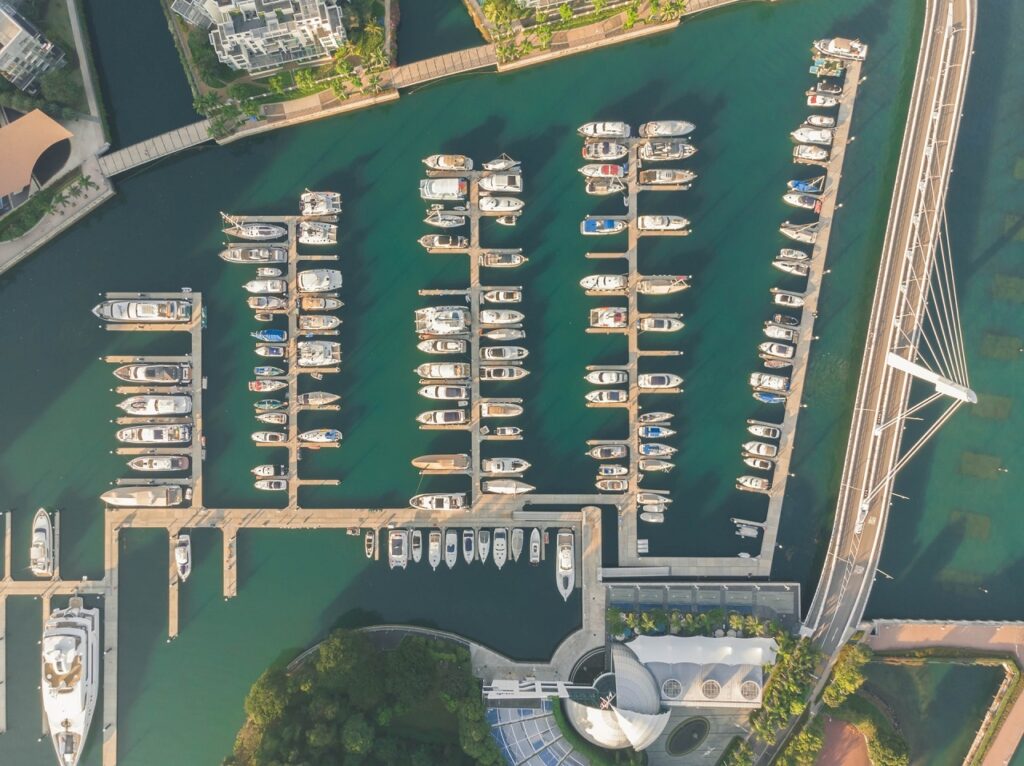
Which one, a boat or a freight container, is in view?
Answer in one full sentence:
There is a boat in the scene.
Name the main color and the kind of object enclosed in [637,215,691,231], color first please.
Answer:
white boat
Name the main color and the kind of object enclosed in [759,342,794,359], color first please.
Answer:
white boat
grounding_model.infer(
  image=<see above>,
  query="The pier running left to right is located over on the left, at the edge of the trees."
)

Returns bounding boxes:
[105,493,637,766]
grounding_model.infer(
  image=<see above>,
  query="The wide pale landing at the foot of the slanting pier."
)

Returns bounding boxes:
[603,557,773,577]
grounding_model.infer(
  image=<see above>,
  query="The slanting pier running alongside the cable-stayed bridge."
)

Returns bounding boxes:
[730,60,862,557]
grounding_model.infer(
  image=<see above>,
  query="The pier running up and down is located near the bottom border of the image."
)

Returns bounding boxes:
[0,511,105,735]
